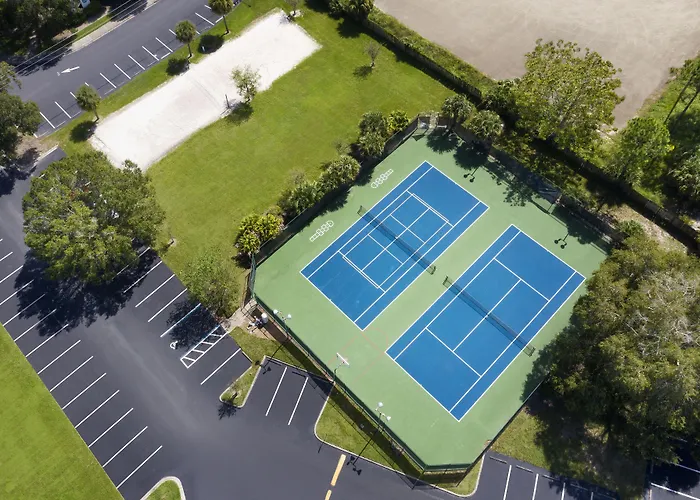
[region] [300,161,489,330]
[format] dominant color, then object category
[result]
blue tennis court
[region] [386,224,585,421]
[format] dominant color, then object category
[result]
blue tennis court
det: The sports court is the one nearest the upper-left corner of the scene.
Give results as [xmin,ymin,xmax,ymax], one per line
[90,10,321,170]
